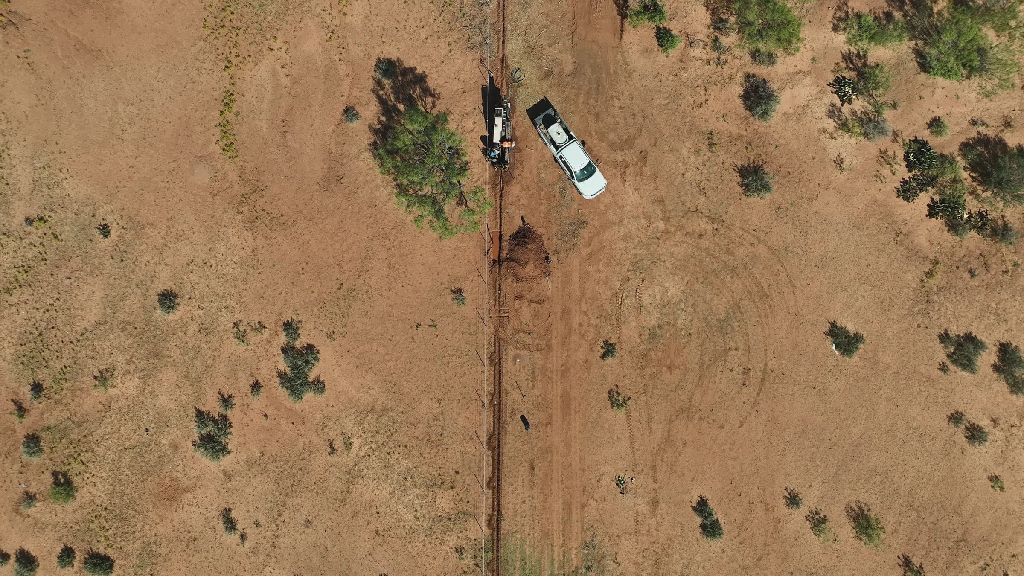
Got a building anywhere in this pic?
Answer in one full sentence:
No, no building is visible in the view.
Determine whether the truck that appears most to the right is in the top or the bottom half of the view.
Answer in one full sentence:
The top half of the photo is where the truck that appears most to the right is.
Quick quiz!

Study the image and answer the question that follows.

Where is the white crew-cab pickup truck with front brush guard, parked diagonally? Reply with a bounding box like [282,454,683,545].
[530,106,607,200]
